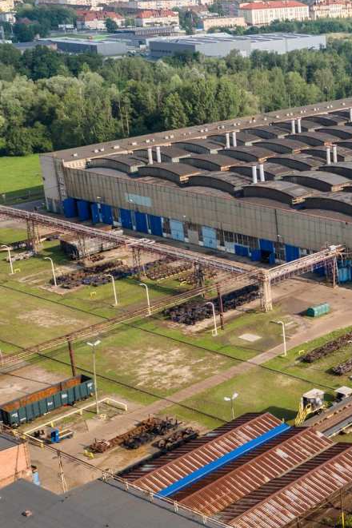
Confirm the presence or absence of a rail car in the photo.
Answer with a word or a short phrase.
Yes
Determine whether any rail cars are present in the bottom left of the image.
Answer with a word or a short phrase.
Yes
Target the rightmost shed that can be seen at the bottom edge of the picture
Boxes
[114,409,352,528]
